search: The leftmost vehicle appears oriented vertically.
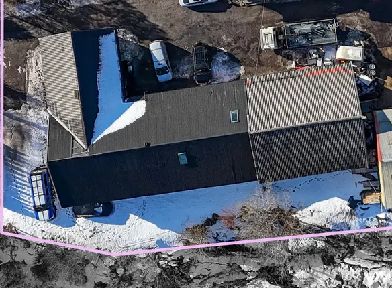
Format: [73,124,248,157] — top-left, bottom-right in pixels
[30,171,56,219]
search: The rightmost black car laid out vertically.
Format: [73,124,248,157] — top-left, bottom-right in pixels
[193,43,213,85]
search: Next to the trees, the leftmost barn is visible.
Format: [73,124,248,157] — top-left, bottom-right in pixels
[37,27,258,209]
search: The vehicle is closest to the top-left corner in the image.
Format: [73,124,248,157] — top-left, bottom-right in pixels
[148,40,173,81]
